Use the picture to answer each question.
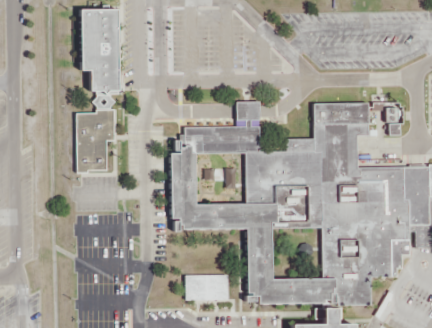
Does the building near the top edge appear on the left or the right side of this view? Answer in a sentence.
You can find the building near the top edge on the left side of the picture.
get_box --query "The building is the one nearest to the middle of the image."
[202,168,236,188]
